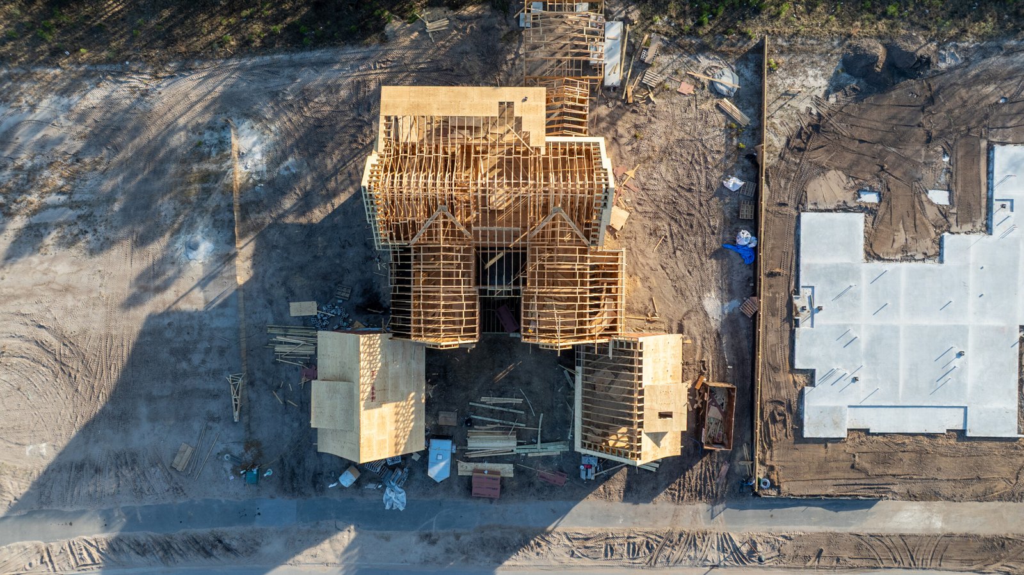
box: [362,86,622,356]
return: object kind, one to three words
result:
house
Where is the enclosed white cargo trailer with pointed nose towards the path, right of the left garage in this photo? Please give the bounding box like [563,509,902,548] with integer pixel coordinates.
[428,432,456,485]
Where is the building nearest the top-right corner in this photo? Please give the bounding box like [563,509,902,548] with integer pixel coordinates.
[505,0,605,136]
